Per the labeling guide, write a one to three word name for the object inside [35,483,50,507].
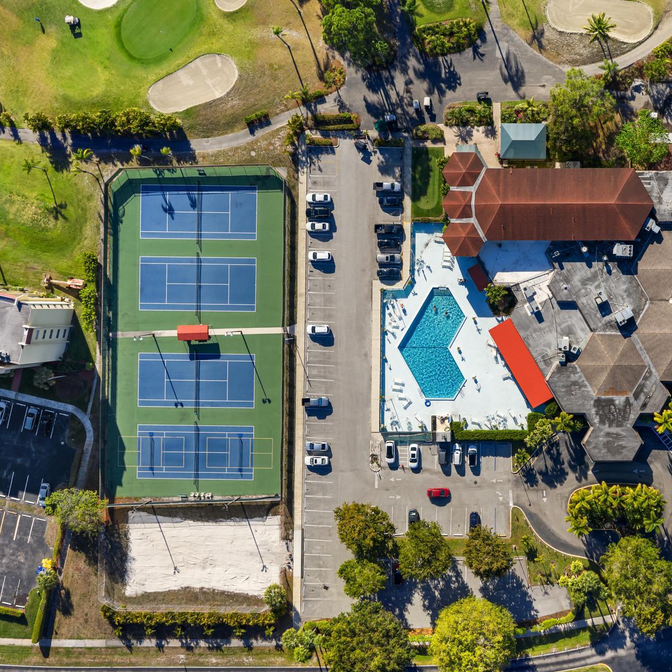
car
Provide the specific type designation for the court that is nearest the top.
tennis court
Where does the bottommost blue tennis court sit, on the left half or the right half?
left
